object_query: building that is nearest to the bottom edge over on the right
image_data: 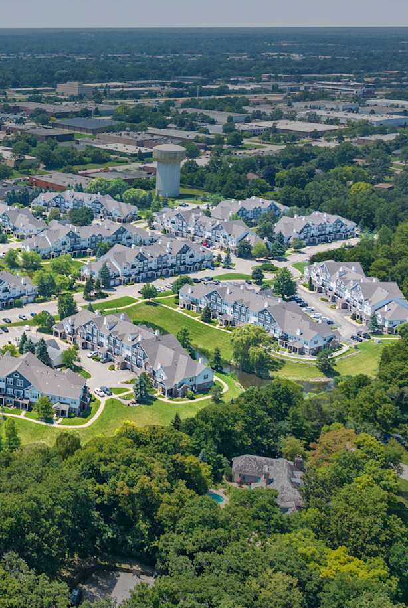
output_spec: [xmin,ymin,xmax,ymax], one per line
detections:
[229,446,314,527]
